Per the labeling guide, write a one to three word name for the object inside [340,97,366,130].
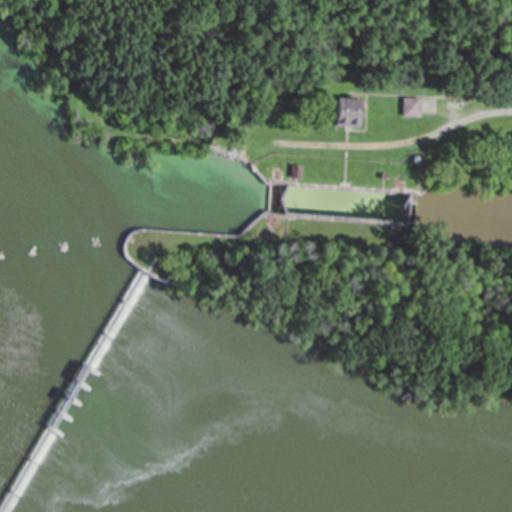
house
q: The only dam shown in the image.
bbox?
[0,266,153,512]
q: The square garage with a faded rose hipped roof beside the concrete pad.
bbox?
[404,96,422,117]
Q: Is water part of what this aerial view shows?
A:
Yes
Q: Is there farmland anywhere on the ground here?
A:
No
